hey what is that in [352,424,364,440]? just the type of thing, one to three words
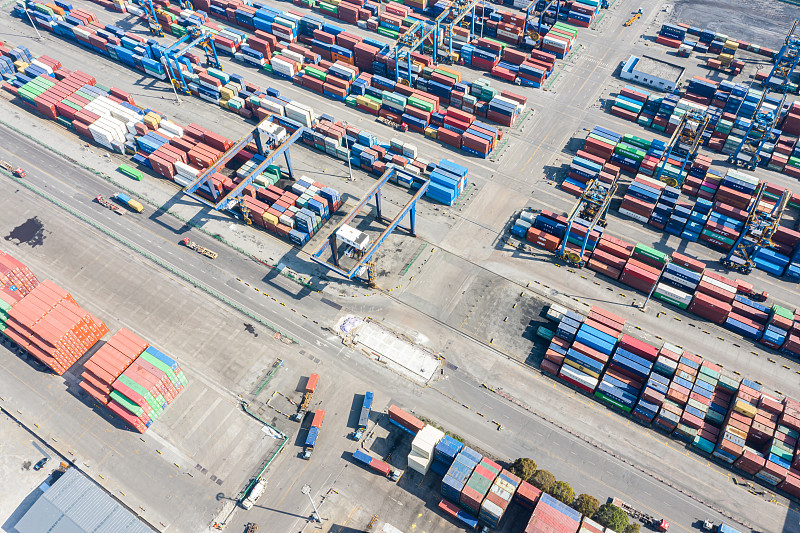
vehicle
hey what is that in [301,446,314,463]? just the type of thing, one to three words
vehicle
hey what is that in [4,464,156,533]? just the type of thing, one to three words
building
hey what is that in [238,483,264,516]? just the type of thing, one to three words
truck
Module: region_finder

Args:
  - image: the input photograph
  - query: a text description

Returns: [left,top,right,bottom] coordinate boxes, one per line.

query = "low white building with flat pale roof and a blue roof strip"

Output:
[620,52,686,94]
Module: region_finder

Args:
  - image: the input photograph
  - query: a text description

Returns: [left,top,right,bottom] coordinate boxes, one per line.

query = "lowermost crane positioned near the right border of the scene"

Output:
[719,179,789,274]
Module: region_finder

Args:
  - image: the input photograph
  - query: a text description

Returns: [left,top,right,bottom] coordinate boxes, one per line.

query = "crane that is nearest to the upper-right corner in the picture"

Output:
[766,20,800,90]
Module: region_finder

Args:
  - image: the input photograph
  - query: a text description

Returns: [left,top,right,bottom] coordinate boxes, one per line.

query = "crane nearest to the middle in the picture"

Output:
[308,164,434,290]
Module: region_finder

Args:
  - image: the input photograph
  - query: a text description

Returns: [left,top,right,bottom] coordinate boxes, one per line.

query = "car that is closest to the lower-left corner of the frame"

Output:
[34,458,50,472]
